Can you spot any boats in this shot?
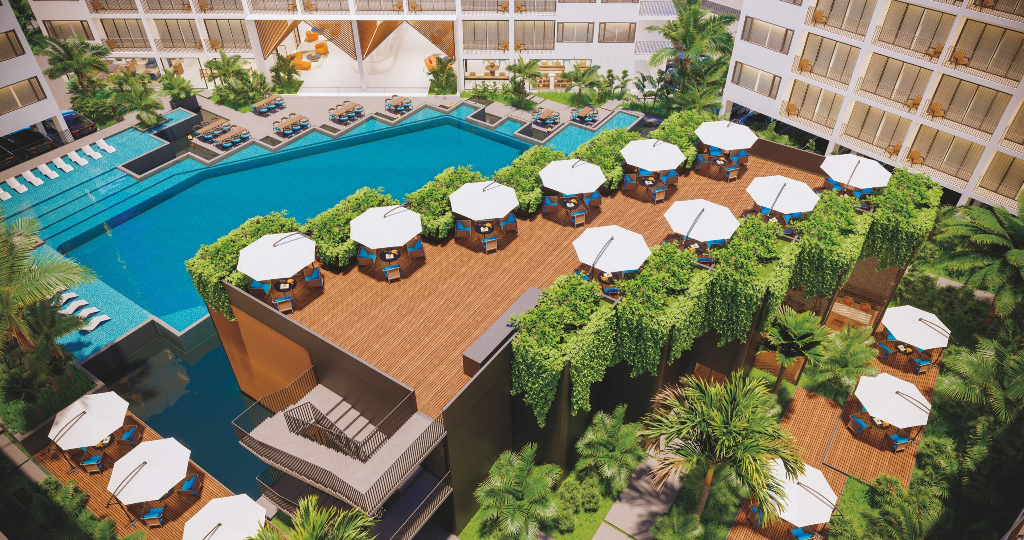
No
